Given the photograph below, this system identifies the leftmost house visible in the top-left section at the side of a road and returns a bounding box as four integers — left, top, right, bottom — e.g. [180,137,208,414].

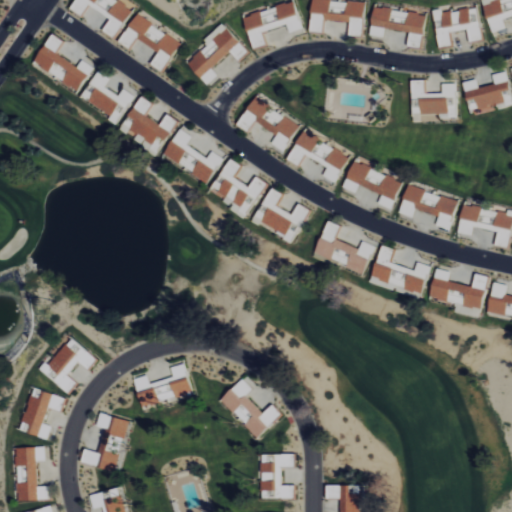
[33,34,91,92]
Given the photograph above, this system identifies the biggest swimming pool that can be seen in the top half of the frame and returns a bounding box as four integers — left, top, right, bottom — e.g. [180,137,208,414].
[326,78,374,123]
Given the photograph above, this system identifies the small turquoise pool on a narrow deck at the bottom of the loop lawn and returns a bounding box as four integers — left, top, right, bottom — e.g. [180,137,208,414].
[166,471,211,512]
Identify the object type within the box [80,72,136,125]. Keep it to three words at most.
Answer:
house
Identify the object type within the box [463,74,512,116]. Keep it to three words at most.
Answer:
house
